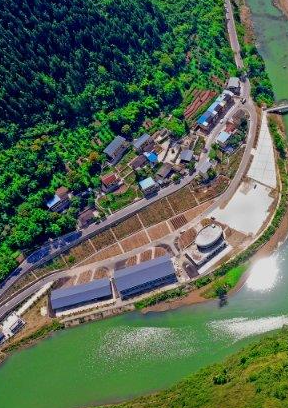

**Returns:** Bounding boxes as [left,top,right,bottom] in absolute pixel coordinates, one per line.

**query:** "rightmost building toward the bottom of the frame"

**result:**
[184,224,233,275]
